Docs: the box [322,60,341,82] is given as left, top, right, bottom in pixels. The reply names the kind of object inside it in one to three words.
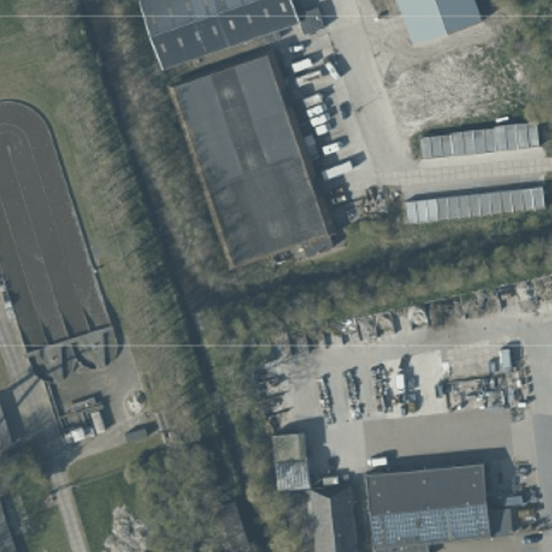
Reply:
vehicle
